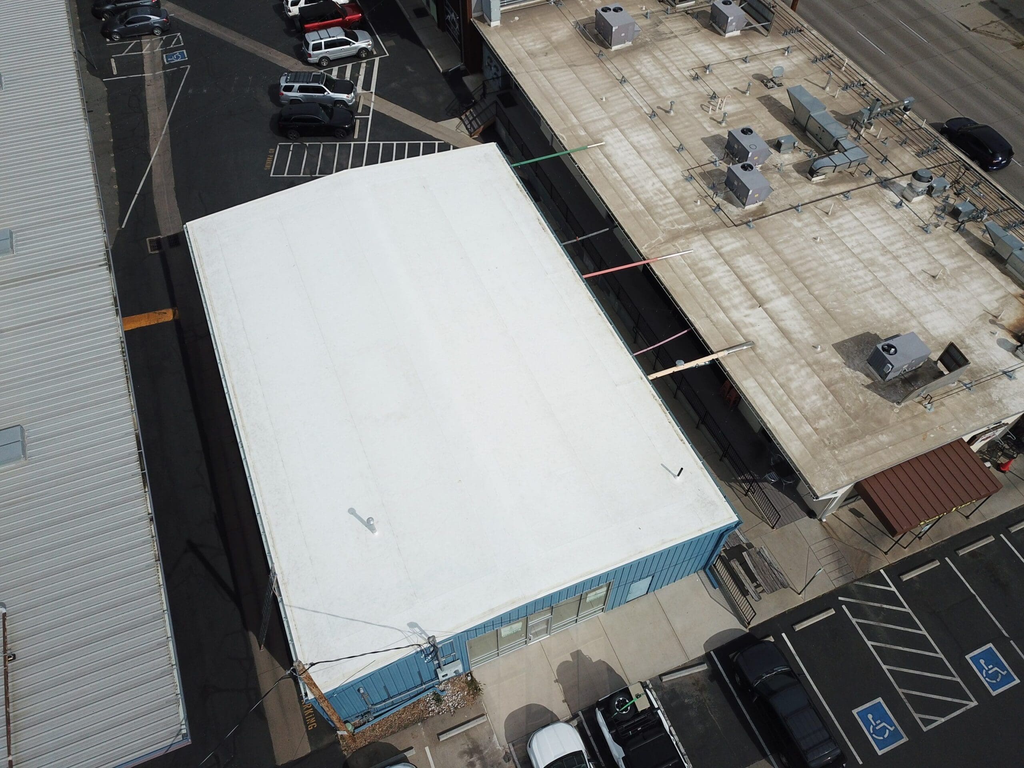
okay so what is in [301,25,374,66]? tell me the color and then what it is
gray car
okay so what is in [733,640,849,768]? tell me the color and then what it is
black car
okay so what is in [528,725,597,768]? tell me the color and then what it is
white car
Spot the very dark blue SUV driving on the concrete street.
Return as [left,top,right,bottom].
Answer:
[941,113,1020,170]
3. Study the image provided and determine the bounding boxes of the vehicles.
[941,113,1020,170]
[395,760,431,768]
[280,65,357,106]
[100,5,169,40]
[274,98,358,140]
[293,0,361,30]
[595,681,685,768]
[733,640,849,768]
[528,725,597,768]
[301,25,374,66]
